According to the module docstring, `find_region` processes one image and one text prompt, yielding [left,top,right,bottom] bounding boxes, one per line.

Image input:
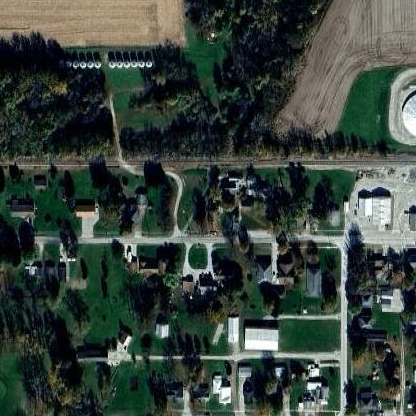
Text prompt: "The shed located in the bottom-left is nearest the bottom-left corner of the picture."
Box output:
[77,343,107,358]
